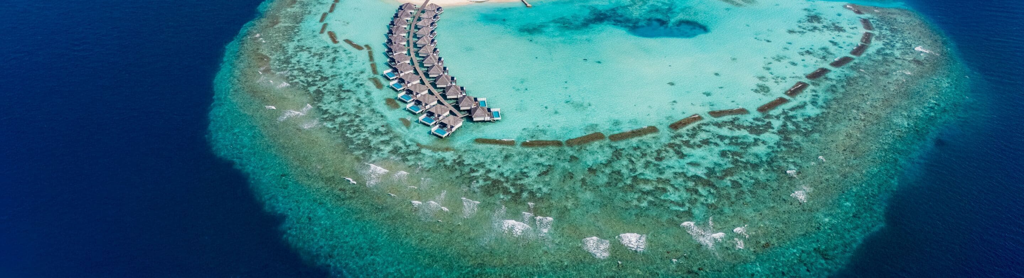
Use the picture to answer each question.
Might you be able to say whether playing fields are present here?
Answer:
No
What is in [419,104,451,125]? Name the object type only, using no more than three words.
house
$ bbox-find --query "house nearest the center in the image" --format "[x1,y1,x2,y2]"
[470,106,501,123]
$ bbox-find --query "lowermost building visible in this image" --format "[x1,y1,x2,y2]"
[432,115,464,140]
